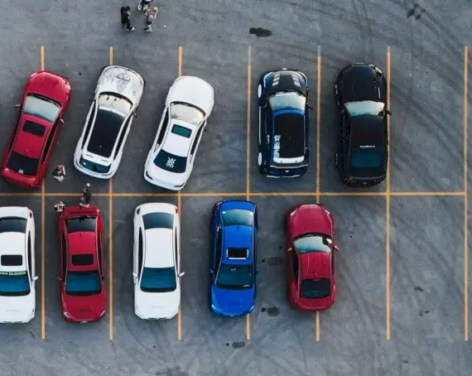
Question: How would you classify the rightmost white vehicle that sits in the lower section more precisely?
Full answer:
The rightmost white vehicle that sits in the lower section appears to be an automobile.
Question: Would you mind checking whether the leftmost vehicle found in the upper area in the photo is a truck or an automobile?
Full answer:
In the photo, the leftmost vehicle found in the upper area shows up as an automobile.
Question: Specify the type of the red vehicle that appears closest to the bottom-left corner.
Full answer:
The red vehicle that appears closest to the bottom-left corner can be classified as an automobile.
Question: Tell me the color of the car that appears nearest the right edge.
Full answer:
From above, the car that appears nearest the right edge appears black.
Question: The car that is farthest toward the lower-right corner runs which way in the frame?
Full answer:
The car that is farthest toward the lower-right corner is laid out from top to bottom.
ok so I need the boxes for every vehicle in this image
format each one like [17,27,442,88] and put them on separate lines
[258,70,315,176]
[1,69,69,191]
[333,63,392,190]
[286,204,344,312]
[130,203,187,320]
[75,64,143,181]
[208,202,265,317]
[0,207,42,324]
[145,74,214,195]
[56,207,113,323]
